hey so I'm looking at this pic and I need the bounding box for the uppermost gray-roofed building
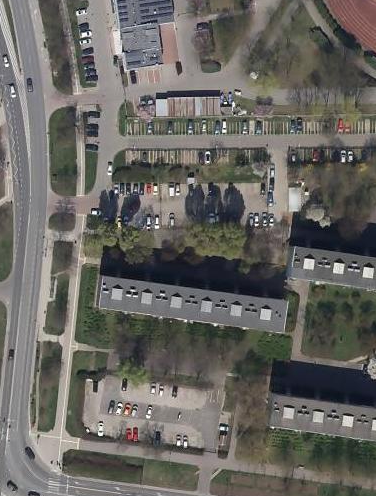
[112,0,175,71]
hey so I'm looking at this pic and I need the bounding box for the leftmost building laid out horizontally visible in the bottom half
[98,275,292,334]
